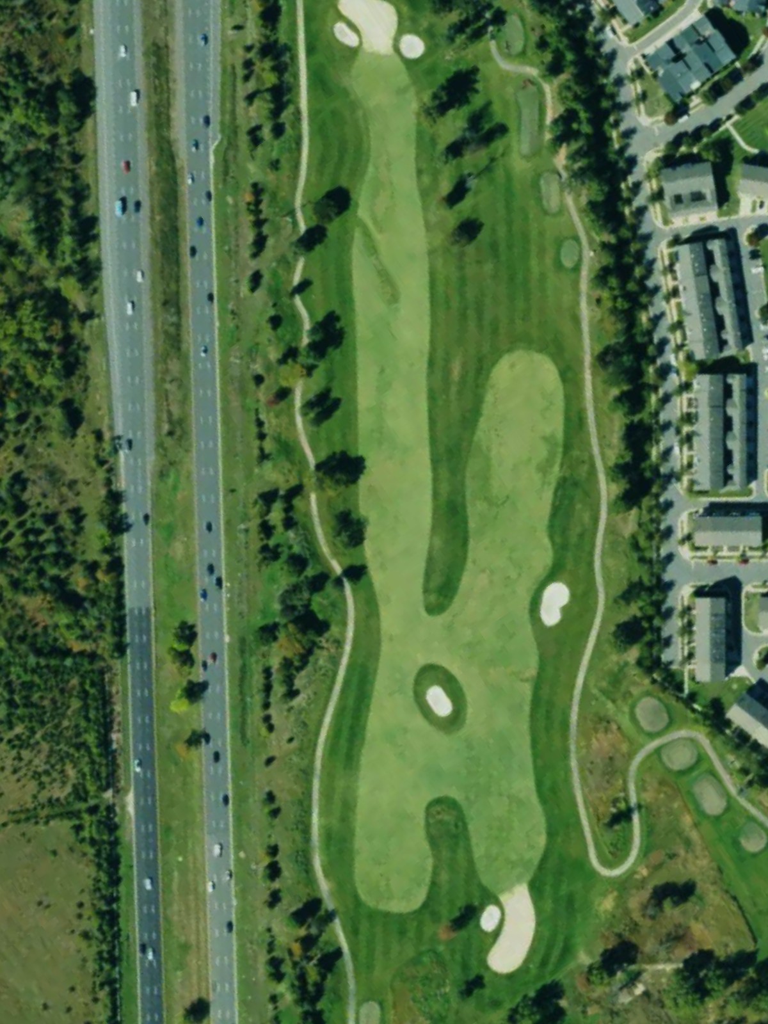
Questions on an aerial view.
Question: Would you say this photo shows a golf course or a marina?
golf course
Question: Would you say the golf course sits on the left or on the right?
right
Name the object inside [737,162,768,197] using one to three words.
house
